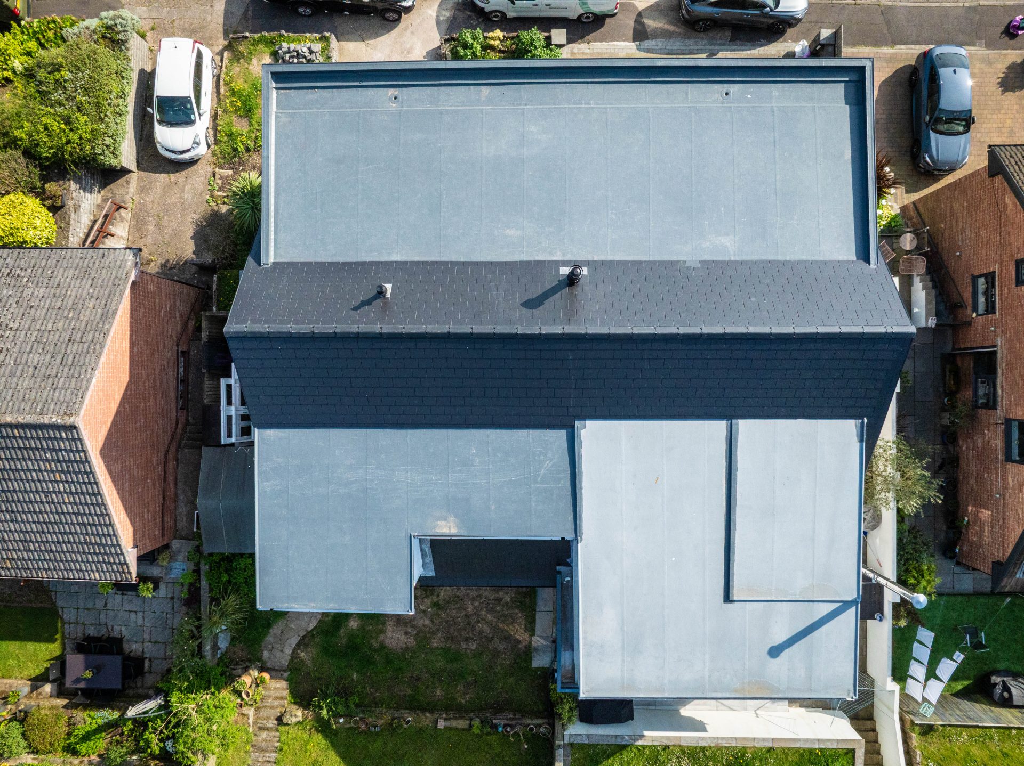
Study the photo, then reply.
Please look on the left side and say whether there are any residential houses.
Yes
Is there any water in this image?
No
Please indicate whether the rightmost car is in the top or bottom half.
top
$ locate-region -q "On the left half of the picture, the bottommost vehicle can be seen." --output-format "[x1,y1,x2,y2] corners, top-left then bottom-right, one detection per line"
[146,36,217,167]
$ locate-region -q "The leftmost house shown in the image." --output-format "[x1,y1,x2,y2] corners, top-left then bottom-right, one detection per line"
[0,244,205,585]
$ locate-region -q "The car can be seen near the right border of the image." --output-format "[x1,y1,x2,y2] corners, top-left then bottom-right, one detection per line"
[906,39,983,180]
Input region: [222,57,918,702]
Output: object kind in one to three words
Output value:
house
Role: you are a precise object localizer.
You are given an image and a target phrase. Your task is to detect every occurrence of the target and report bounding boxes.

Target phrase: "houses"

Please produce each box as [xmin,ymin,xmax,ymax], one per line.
[899,141,1024,600]
[0,244,205,585]
[222,57,918,702]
